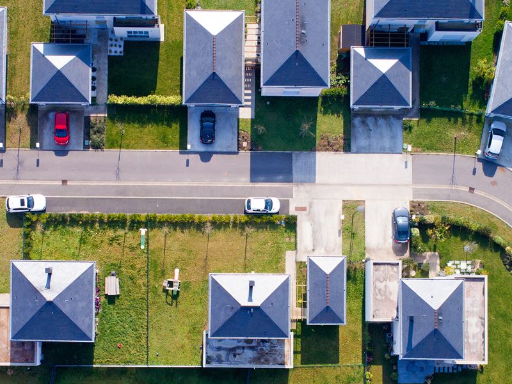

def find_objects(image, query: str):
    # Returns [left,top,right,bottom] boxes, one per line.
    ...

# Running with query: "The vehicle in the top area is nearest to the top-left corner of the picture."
[52,110,71,146]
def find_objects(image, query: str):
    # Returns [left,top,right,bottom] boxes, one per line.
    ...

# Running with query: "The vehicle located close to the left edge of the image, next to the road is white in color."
[6,193,47,212]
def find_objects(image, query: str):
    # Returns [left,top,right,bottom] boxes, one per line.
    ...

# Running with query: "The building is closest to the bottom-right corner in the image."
[365,260,488,365]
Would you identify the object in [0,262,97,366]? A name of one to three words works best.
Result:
house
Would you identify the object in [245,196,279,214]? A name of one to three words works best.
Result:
car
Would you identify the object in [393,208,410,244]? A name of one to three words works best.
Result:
car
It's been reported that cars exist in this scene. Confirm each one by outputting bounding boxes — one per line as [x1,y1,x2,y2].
[483,120,507,160]
[245,196,279,214]
[198,108,217,146]
[6,193,47,212]
[52,110,71,146]
[393,208,410,244]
